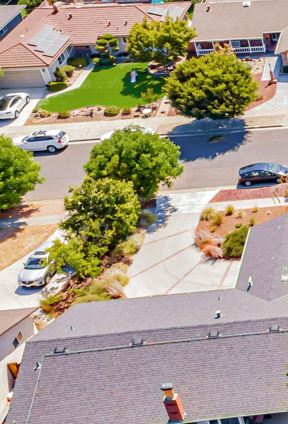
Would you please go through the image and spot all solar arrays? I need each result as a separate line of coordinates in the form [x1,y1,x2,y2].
[157,1,179,13]
[30,32,65,57]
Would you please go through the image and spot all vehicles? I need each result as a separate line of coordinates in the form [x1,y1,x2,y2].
[97,122,154,146]
[0,93,34,119]
[0,240,58,293]
[234,162,288,187]
[15,123,70,151]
